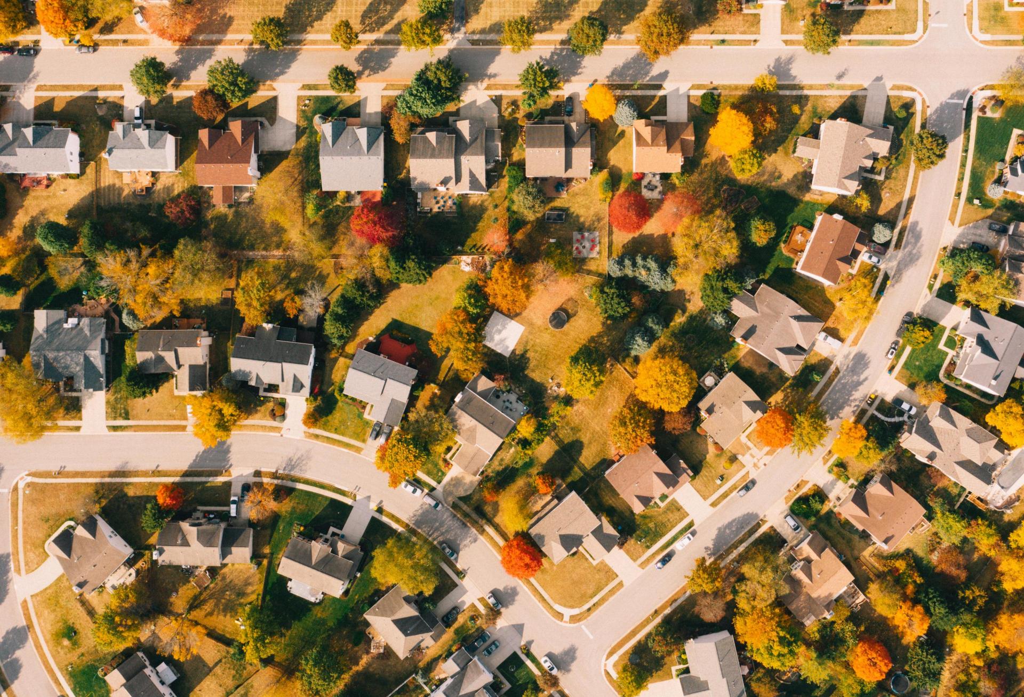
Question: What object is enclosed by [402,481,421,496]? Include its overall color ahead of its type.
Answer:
white car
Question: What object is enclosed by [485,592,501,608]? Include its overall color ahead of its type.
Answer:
white car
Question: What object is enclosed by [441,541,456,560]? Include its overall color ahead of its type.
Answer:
gray car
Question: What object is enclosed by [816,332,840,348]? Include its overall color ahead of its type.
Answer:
white vehicle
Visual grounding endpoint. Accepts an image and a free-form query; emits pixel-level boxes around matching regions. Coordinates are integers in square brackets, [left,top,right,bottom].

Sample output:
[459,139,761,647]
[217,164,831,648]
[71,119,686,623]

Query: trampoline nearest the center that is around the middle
[549,310,567,328]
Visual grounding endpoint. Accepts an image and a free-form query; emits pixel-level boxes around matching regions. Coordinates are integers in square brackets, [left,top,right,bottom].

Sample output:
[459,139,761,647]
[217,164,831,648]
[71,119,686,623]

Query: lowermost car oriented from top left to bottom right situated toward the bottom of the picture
[540,655,556,674]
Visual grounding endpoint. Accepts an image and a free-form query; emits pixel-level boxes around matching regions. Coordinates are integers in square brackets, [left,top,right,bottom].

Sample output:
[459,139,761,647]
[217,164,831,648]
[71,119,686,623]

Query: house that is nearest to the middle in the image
[444,372,515,477]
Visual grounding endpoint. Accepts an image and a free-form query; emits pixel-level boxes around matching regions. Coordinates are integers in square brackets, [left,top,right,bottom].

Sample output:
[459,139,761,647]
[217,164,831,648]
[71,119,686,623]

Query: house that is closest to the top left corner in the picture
[0,120,78,174]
